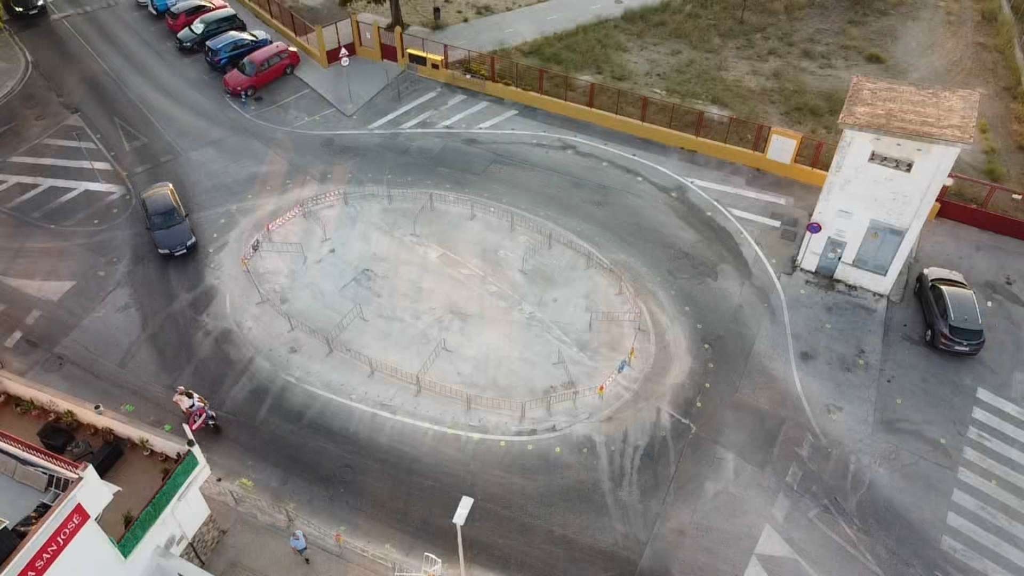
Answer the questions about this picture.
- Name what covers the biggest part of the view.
paved ground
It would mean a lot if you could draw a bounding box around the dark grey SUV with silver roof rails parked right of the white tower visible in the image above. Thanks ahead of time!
[913,268,989,360]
